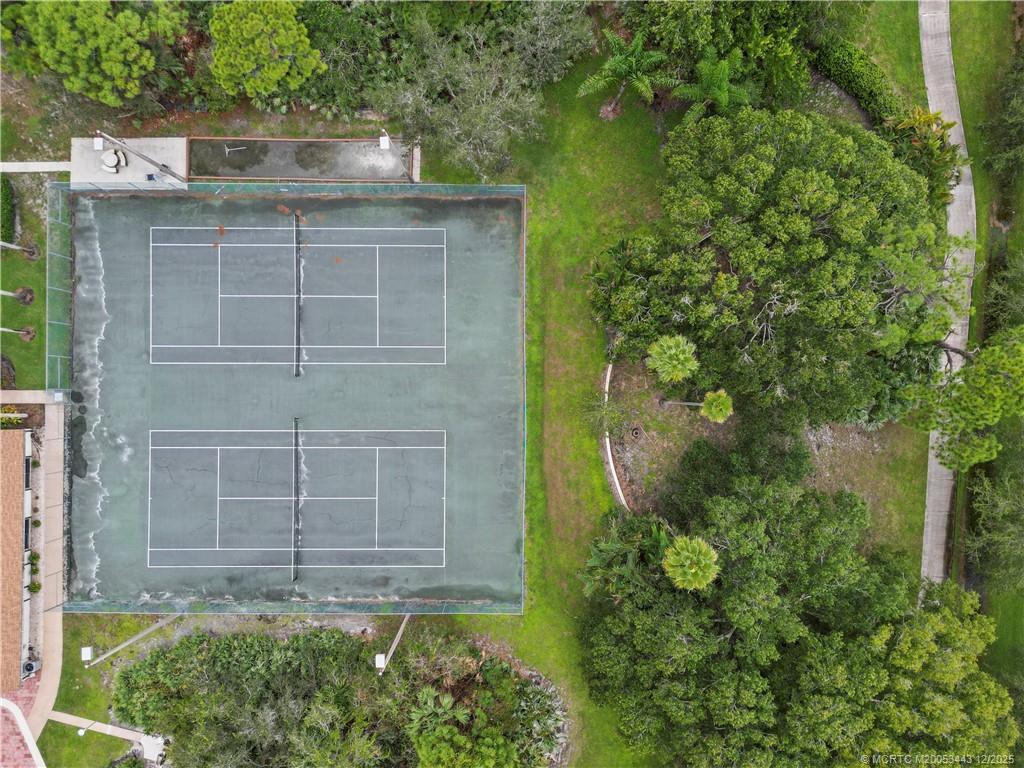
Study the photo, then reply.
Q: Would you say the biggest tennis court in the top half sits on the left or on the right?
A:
left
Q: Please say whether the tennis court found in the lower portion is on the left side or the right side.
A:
left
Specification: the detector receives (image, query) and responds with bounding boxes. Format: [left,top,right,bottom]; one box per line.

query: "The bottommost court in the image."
[148,431,445,568]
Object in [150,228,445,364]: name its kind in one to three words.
tennis court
